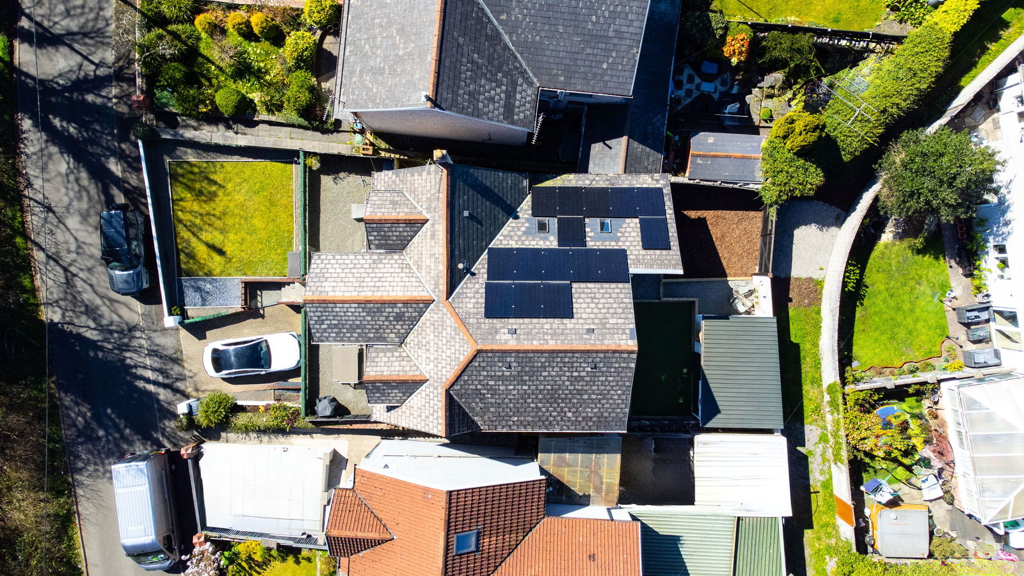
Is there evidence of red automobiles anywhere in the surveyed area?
No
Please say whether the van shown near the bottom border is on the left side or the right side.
left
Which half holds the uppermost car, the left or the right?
left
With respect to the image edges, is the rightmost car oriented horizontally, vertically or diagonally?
horizontally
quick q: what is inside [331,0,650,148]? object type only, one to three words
house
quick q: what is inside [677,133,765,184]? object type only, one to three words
shed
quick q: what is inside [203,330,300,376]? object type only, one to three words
car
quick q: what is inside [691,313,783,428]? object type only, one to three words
shed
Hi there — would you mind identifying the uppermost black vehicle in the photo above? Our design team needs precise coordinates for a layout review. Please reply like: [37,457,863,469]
[99,202,162,296]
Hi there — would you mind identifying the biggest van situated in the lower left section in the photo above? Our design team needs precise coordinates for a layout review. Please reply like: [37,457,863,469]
[113,453,184,566]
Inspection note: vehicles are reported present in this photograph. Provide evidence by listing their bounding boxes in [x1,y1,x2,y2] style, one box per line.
[113,453,184,566]
[99,202,162,296]
[203,330,300,376]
